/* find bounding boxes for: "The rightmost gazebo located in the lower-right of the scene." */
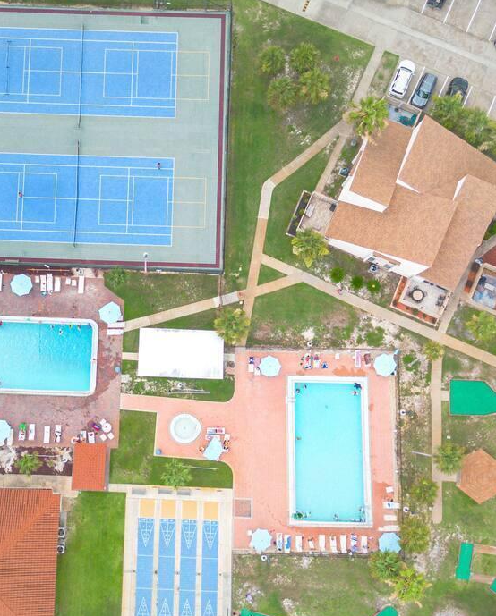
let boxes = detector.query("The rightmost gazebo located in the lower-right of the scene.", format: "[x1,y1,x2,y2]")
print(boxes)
[450,449,496,504]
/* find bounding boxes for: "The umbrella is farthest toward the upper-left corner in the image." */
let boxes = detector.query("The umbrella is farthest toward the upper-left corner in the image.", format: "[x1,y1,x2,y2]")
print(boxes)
[10,274,33,295]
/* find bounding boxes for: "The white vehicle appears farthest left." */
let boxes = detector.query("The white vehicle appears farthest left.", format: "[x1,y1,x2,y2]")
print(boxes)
[387,59,415,100]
